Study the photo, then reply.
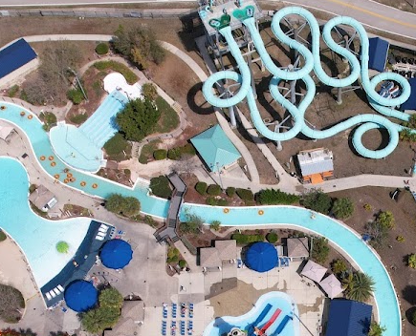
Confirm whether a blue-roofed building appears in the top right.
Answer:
Yes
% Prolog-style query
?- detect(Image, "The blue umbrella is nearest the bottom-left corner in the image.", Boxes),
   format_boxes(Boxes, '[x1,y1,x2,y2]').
[65,281,99,312]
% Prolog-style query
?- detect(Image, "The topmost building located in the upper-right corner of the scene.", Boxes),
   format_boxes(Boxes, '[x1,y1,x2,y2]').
[369,38,389,76]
